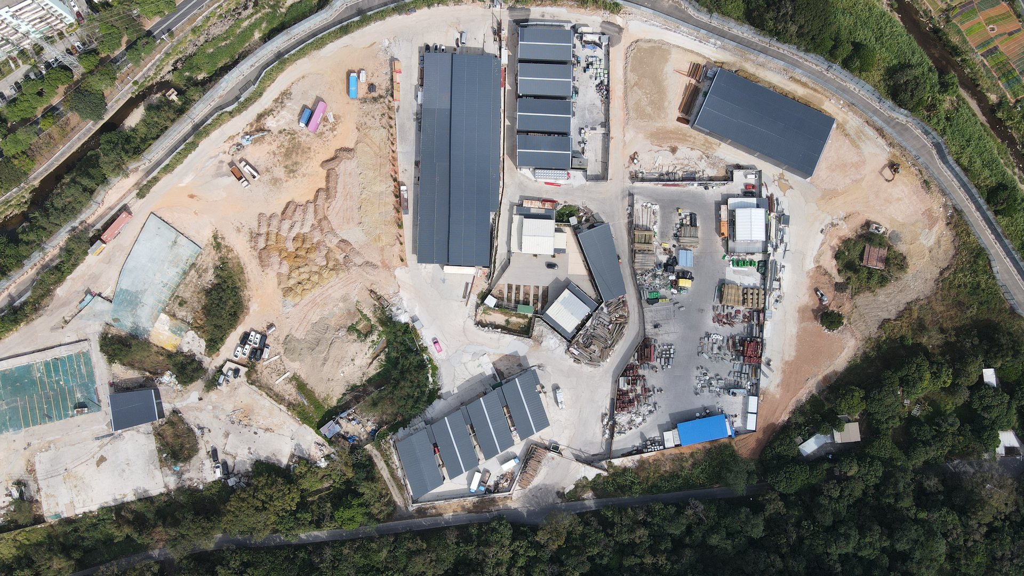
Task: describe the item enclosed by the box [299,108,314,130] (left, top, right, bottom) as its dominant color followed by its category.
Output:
blue vehicle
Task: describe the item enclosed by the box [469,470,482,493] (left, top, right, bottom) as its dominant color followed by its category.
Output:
white vehicle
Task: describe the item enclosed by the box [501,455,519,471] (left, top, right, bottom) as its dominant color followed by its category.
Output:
white vehicle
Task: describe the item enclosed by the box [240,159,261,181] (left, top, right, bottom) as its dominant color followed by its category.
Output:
white truck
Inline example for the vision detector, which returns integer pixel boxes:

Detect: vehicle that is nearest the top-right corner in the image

[878,162,905,177]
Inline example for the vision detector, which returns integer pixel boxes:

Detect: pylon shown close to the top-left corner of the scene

[22,33,87,80]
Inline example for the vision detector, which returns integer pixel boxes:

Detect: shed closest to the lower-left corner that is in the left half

[109,389,164,431]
